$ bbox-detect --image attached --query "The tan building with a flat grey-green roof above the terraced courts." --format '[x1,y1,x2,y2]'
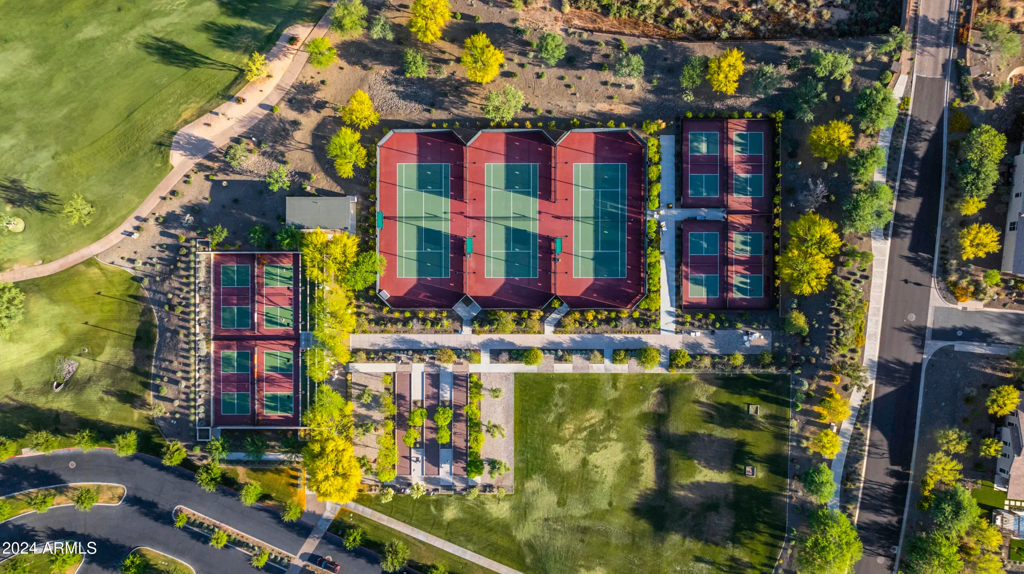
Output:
[286,197,361,232]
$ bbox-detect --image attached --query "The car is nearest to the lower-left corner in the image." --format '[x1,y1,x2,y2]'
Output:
[316,556,340,573]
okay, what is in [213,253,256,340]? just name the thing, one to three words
sports court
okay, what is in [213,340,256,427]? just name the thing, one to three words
sports court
